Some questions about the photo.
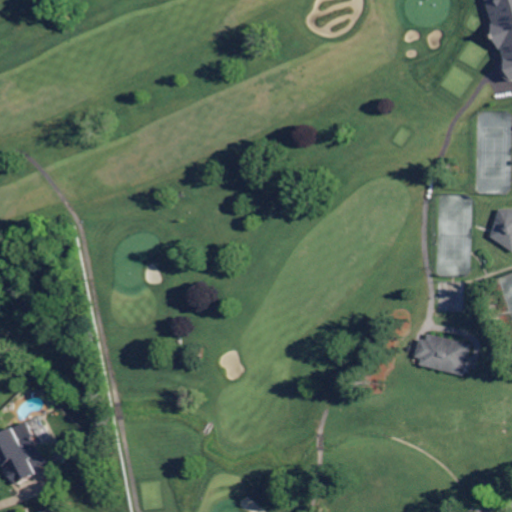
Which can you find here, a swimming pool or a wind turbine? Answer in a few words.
swimming pool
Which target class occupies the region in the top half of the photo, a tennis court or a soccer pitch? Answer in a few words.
tennis court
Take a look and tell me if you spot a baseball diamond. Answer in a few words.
No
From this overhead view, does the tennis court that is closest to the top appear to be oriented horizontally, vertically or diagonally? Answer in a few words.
vertically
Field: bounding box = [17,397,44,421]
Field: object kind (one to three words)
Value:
swimming pool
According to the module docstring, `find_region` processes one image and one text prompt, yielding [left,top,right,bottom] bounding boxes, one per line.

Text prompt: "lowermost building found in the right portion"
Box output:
[414,335,470,376]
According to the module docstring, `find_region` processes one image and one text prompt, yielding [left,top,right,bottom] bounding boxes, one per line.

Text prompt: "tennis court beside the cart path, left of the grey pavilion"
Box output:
[438,196,472,275]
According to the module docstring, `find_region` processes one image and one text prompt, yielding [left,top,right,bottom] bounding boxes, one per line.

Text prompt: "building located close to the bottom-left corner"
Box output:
[0,421,40,484]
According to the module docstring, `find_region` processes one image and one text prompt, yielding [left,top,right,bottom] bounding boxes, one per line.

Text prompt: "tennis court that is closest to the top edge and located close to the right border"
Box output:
[476,112,511,192]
